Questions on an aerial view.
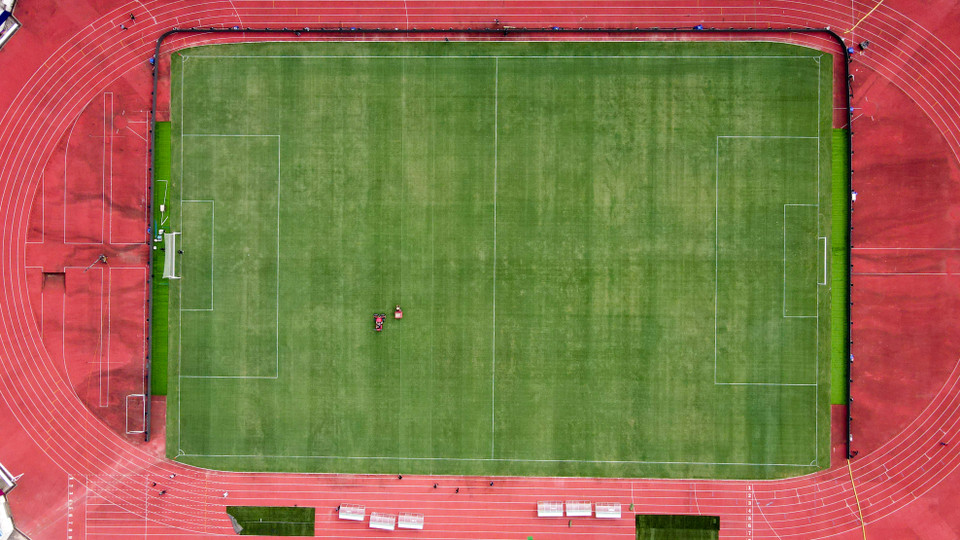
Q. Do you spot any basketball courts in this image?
No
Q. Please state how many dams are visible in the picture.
0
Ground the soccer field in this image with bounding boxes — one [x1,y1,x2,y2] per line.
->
[166,42,832,480]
